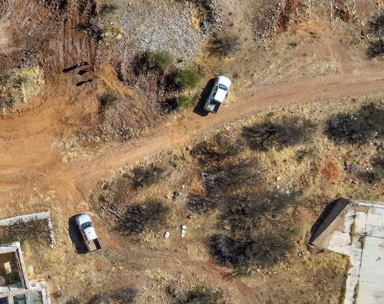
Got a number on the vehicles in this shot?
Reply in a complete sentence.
The number of vehicles here is 2.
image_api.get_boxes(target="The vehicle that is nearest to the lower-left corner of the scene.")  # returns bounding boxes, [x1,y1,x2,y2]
[74,211,103,254]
